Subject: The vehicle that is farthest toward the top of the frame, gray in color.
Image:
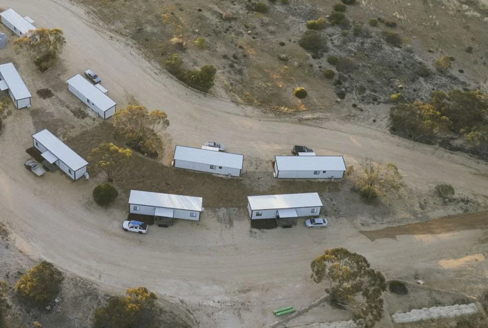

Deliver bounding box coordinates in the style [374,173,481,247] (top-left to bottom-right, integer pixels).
[85,71,100,83]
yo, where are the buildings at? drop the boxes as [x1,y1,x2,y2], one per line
[174,145,243,179]
[128,188,203,227]
[0,61,34,109]
[67,74,119,119]
[274,152,347,180]
[0,8,39,38]
[247,190,323,227]
[31,127,90,180]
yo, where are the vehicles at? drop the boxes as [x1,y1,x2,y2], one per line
[292,145,313,156]
[305,218,329,229]
[25,161,45,176]
[122,220,148,234]
[205,142,225,152]
[85,71,100,83]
